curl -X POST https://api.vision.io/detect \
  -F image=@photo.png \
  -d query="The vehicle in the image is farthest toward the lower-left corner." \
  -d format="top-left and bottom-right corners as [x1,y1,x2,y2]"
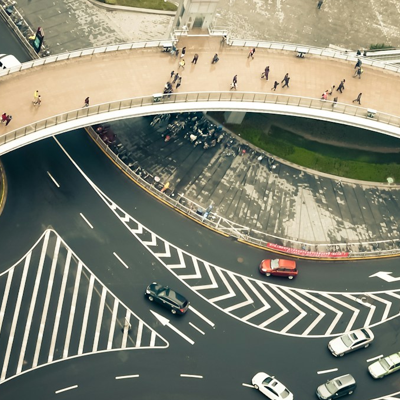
[143,282,192,315]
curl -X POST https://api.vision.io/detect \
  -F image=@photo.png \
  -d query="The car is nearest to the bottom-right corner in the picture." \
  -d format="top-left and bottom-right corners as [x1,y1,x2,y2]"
[367,350,400,379]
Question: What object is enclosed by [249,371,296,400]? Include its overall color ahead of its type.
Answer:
white car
